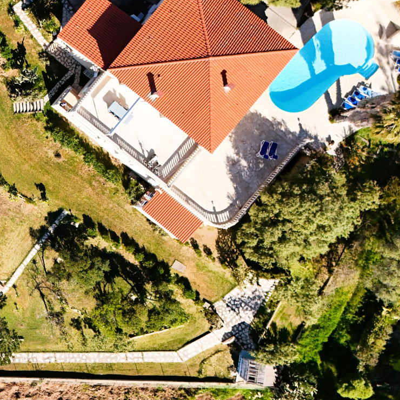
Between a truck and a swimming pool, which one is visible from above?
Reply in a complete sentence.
Of the two, only a swimming pool appears.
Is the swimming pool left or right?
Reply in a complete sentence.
The swimming pool appears in the right half of the scene.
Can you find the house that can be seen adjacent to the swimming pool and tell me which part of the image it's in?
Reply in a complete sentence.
The house that can be seen adjacent to the swimming pool appears toward the top of the photo.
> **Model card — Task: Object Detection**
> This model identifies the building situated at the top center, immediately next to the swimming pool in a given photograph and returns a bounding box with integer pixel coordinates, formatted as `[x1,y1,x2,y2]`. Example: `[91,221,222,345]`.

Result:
[52,0,301,152]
